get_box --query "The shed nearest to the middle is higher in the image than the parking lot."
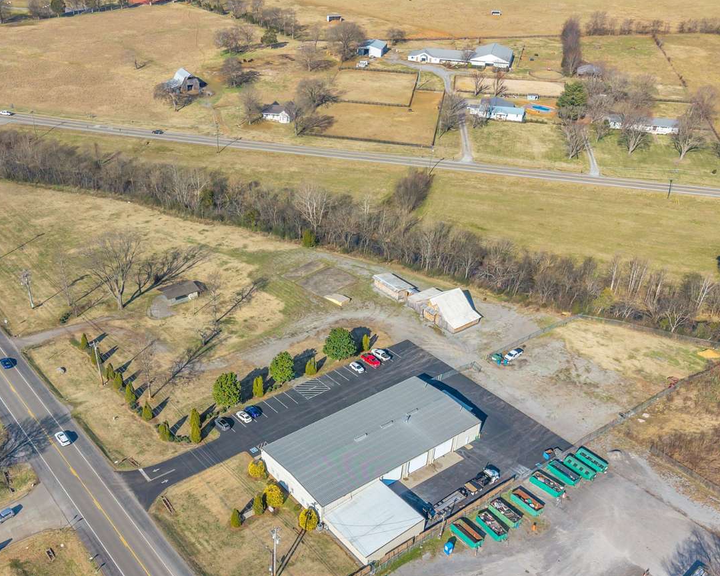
[372,274,419,302]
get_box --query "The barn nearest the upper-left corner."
[160,65,210,92]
